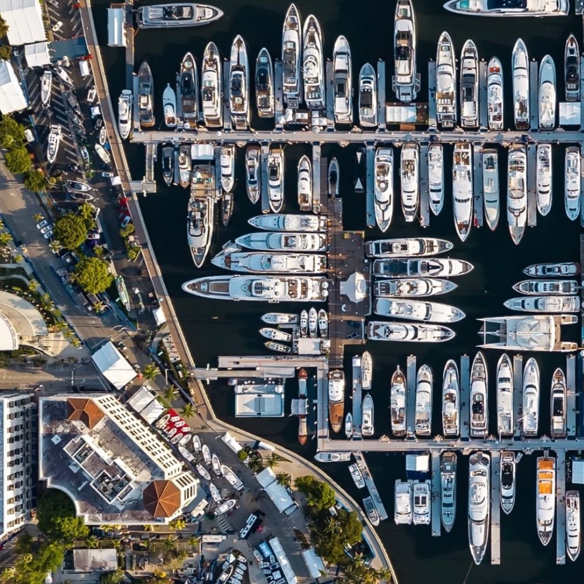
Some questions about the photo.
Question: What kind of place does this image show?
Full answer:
What you see here is a port.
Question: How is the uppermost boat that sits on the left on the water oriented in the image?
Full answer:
In this picture, the uppermost boat that sits on the left on the water lies from left to right.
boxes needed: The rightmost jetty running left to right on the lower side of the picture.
[328,438,584,451]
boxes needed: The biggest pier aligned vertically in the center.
[328,231,372,345]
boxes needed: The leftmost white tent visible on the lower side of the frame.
[91,340,142,387]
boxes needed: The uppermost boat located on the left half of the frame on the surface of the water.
[136,2,224,29]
